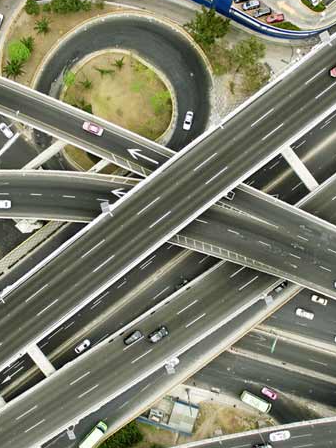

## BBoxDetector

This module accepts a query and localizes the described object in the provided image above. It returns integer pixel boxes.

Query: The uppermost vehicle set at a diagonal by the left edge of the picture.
[0,122,14,140]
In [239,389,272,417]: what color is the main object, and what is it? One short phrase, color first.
white bus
